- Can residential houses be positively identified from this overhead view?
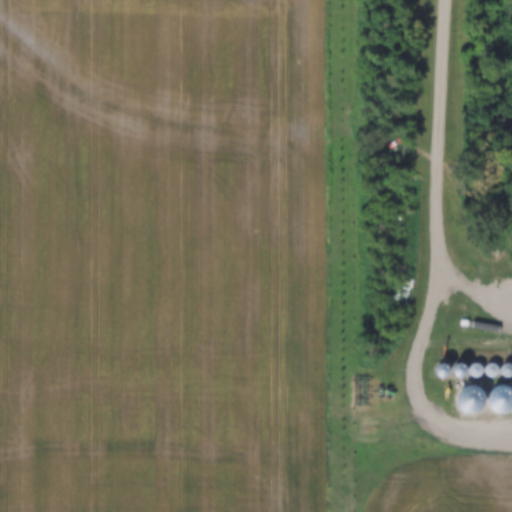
No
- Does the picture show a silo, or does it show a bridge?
silo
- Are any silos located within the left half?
No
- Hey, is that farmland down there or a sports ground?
farmland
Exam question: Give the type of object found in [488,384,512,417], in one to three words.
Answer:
silo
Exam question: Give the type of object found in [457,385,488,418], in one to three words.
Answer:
silo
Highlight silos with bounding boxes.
[435,363,452,382]
[485,362,502,379]
[457,385,488,418]
[469,362,486,379]
[501,362,512,379]
[452,363,470,382]
[488,384,512,417]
